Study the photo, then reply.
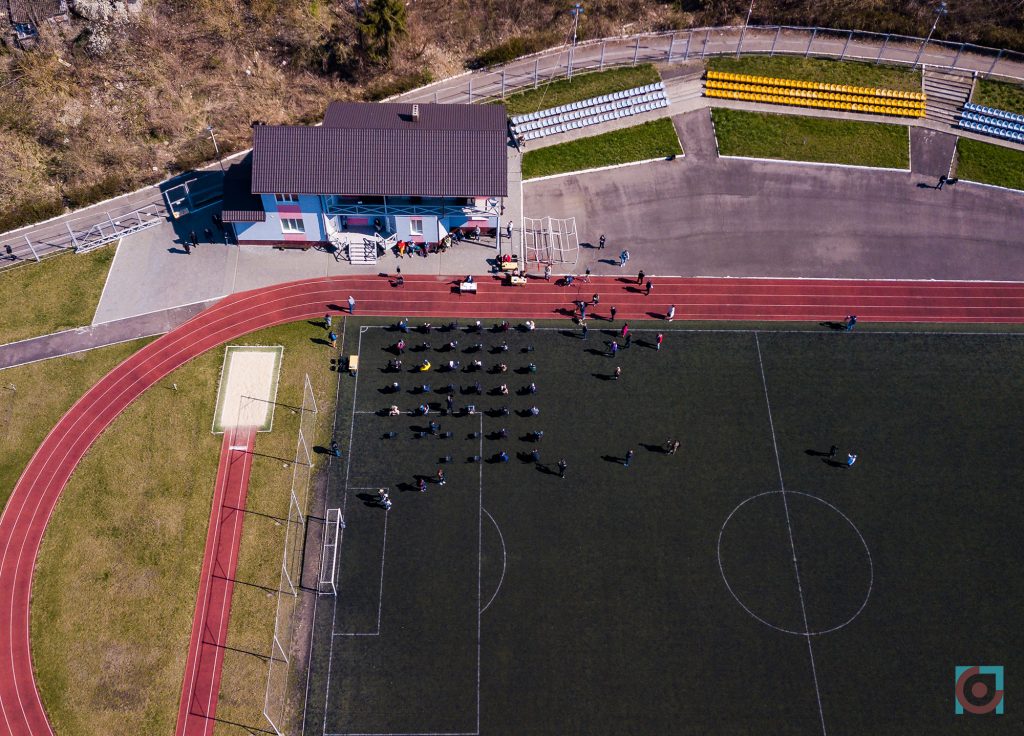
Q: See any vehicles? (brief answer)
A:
No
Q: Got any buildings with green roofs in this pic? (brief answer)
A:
No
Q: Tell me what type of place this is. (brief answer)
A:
sports ground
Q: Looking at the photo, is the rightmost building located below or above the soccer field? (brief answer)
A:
above it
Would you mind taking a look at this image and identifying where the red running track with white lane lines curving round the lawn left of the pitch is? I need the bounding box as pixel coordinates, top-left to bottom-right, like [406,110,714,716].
[0,274,1024,736]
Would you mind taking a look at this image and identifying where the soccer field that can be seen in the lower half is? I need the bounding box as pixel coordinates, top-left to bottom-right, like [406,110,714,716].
[302,317,1024,736]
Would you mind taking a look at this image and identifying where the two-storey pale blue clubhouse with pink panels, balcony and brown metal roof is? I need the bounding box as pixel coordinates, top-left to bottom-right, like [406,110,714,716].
[221,102,507,264]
